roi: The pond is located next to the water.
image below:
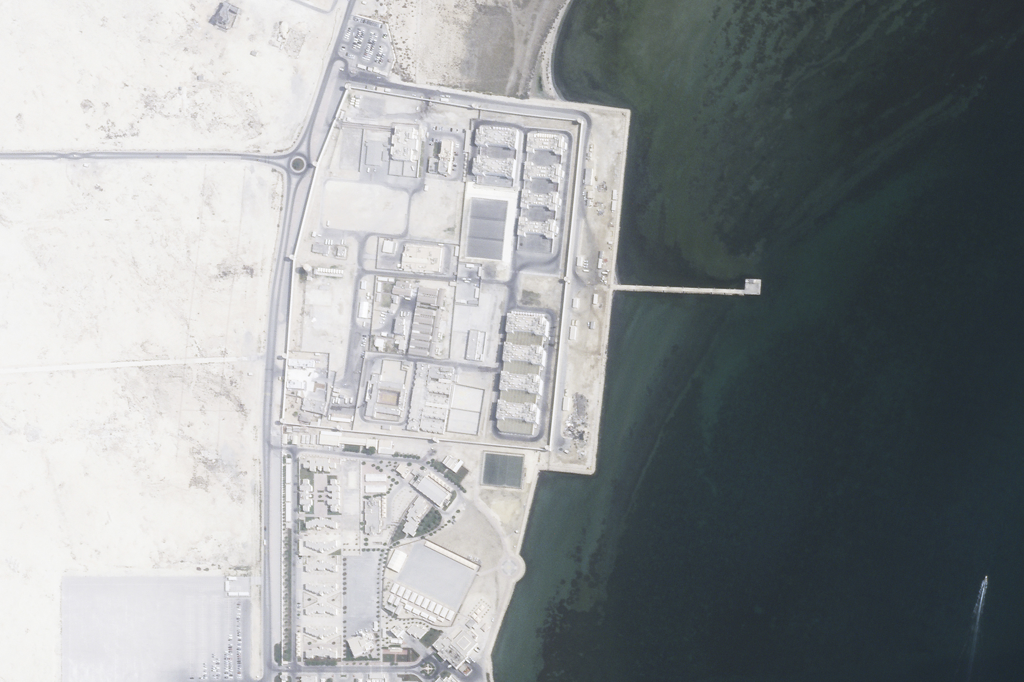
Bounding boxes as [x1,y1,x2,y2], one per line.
[479,450,527,492]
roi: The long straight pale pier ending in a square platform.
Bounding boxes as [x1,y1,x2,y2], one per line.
[612,279,761,296]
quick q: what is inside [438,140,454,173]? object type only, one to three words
building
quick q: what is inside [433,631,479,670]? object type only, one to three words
house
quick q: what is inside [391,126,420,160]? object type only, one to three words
building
